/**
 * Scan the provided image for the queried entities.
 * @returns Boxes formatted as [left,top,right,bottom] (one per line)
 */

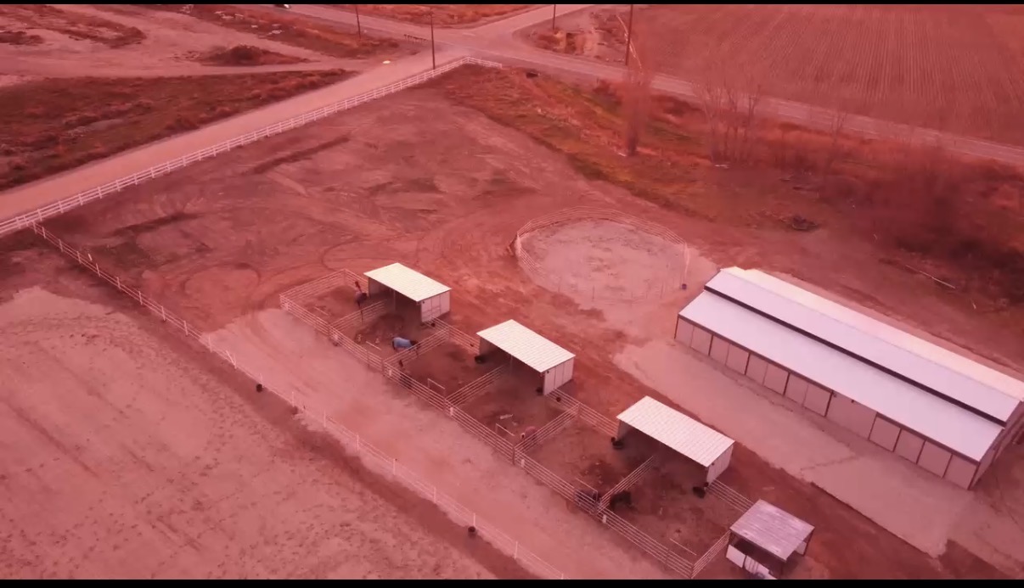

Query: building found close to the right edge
[677,266,1024,489]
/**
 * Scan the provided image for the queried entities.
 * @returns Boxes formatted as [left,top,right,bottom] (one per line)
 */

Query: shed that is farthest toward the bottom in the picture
[727,499,803,574]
